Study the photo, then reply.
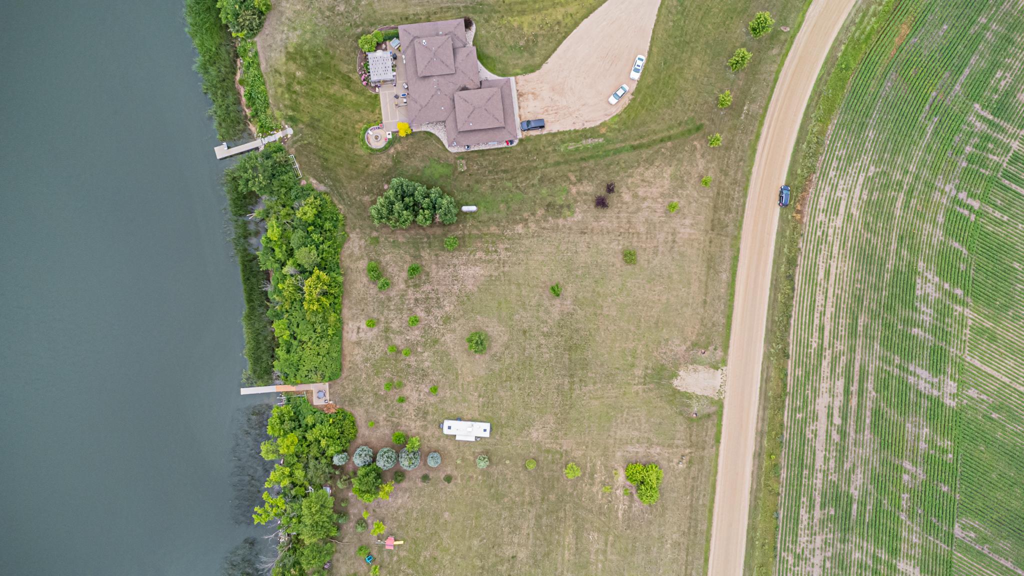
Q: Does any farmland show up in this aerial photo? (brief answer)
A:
Yes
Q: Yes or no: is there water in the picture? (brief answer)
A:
Yes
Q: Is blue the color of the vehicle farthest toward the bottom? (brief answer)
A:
No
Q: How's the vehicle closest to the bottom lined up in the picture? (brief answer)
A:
horizontally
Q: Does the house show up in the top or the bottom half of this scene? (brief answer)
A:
top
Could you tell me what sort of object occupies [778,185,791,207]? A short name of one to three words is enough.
vehicle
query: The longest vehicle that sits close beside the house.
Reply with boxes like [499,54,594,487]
[520,118,545,132]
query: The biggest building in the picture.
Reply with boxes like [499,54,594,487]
[398,18,517,147]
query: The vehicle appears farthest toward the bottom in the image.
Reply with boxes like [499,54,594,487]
[439,414,492,441]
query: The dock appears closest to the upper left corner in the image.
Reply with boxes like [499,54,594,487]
[214,139,263,159]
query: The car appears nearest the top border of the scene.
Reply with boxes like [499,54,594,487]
[630,55,644,80]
